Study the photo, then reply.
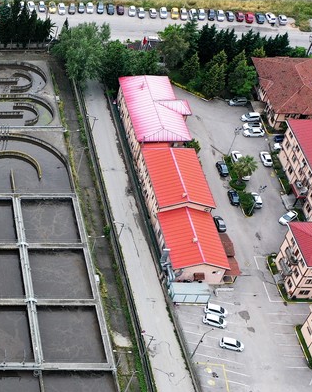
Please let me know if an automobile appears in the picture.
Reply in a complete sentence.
Yes, an automobile is visible in the scene.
